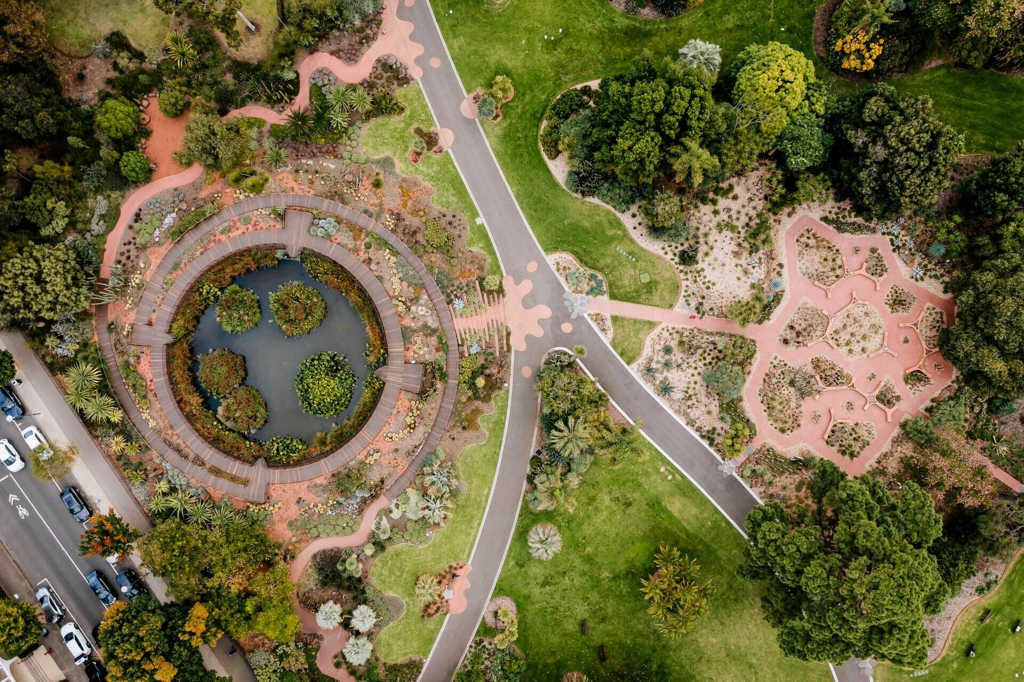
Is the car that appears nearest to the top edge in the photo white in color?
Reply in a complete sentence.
No, the car that appears nearest to the top edge is actually blue.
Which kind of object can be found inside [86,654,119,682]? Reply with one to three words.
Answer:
car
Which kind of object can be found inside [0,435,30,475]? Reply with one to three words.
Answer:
car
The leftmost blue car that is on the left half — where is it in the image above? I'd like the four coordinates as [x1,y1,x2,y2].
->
[0,385,28,426]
